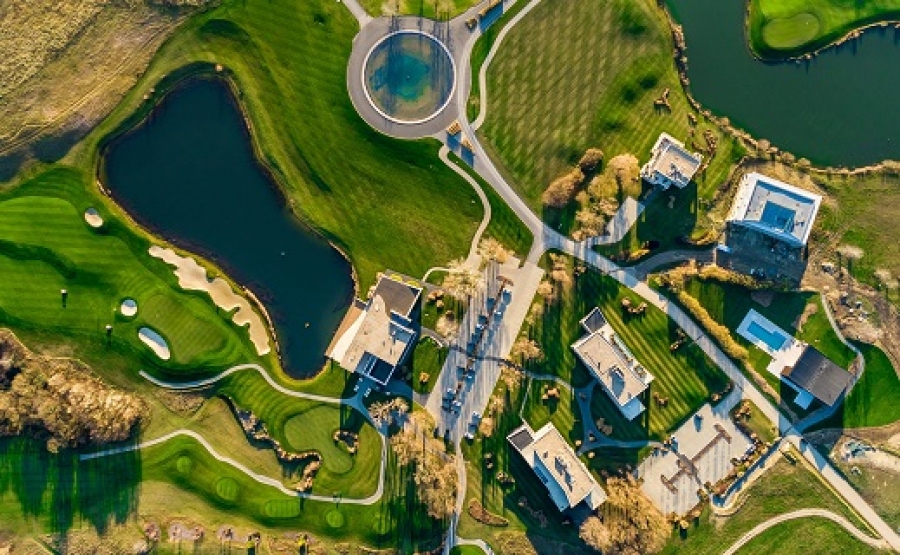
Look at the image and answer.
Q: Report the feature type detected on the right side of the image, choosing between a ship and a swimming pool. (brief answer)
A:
swimming pool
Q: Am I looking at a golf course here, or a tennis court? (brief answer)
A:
golf course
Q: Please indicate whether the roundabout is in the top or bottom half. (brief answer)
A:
top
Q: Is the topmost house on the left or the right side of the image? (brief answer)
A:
right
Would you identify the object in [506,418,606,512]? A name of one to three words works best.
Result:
house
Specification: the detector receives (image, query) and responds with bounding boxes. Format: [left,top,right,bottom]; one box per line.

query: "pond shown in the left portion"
[107,77,356,378]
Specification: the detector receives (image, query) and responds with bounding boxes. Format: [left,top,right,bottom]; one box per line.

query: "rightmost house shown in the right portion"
[780,346,853,409]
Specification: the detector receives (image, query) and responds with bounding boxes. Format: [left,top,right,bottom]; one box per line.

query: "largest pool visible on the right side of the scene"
[737,310,810,380]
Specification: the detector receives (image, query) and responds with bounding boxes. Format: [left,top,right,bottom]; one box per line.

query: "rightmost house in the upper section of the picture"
[730,172,821,250]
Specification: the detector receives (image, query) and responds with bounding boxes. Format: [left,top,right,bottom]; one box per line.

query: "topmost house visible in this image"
[639,133,704,191]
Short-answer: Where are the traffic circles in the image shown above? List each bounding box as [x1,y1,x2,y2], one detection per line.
[346,0,519,140]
